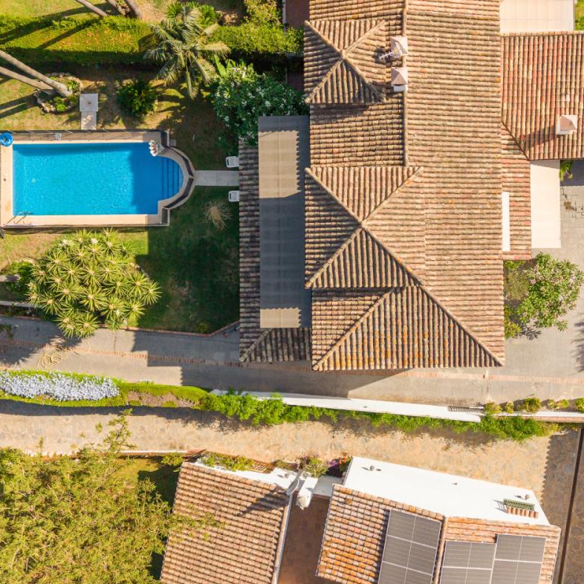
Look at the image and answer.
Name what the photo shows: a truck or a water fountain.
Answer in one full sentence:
The one in the frame is a water fountain.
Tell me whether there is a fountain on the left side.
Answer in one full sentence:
Yes, I can see a fountain on the left side.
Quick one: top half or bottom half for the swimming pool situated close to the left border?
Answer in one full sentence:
The top half of the photo is where the swimming pool situated close to the left border is.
